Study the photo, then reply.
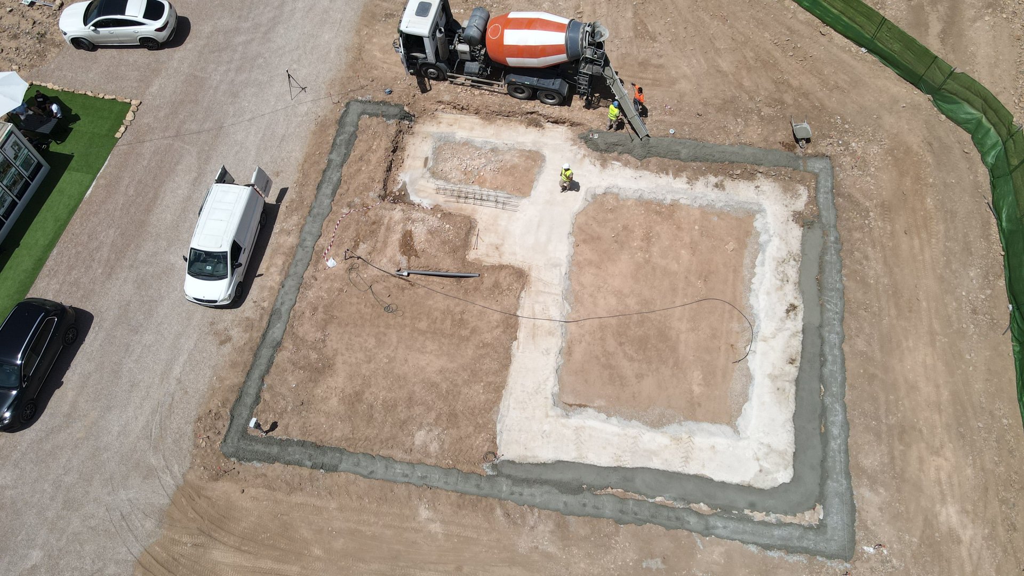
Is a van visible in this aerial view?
Yes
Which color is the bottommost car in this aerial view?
black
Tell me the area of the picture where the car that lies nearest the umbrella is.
top left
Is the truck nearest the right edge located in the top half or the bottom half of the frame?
top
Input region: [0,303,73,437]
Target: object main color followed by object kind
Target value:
black car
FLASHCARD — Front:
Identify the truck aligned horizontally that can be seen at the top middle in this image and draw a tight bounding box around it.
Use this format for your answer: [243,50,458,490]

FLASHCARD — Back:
[389,0,650,135]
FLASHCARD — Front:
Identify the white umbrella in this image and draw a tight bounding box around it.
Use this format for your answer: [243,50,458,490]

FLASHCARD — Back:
[0,69,28,112]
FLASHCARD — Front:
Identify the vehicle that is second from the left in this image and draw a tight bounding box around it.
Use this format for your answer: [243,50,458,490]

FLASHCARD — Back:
[60,0,173,49]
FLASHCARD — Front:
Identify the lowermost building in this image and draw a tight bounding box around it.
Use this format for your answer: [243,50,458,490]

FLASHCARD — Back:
[0,123,48,240]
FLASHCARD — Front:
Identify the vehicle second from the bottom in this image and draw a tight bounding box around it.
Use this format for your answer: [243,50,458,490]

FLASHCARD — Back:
[174,164,272,308]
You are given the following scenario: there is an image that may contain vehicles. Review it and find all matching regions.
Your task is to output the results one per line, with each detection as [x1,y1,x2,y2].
[0,303,73,437]
[389,0,650,135]
[174,164,272,308]
[60,0,173,49]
